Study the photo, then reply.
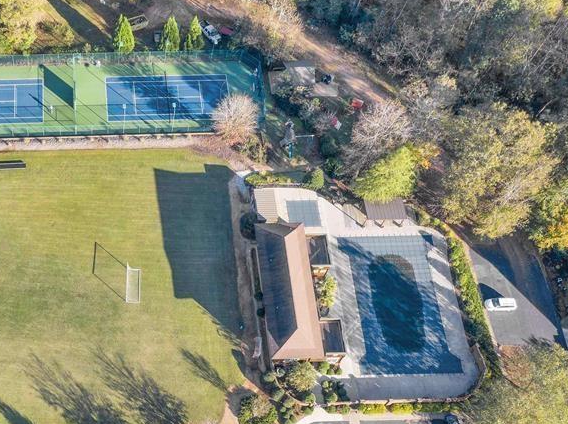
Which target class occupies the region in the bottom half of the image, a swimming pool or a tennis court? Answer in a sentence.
Looking in the bottom half of the image, you will find a swimming pool.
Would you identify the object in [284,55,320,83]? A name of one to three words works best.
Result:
shed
